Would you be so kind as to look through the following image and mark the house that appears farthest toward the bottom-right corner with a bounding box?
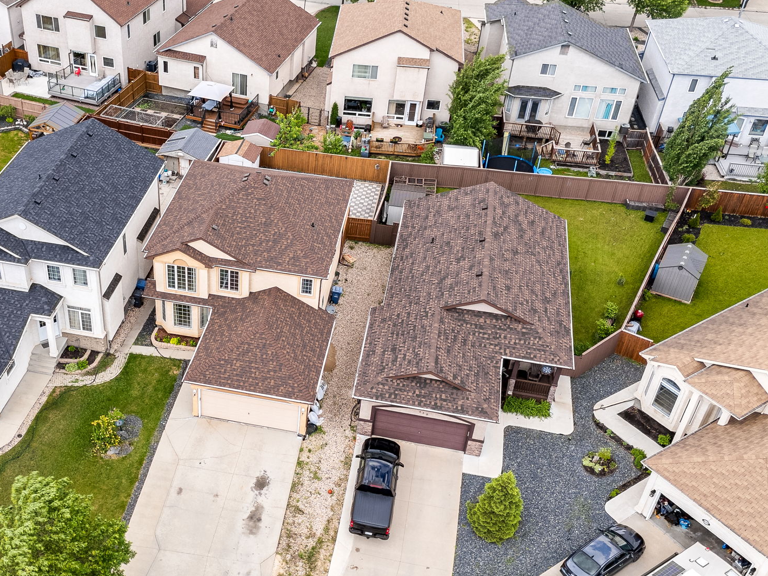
[630,286,768,576]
